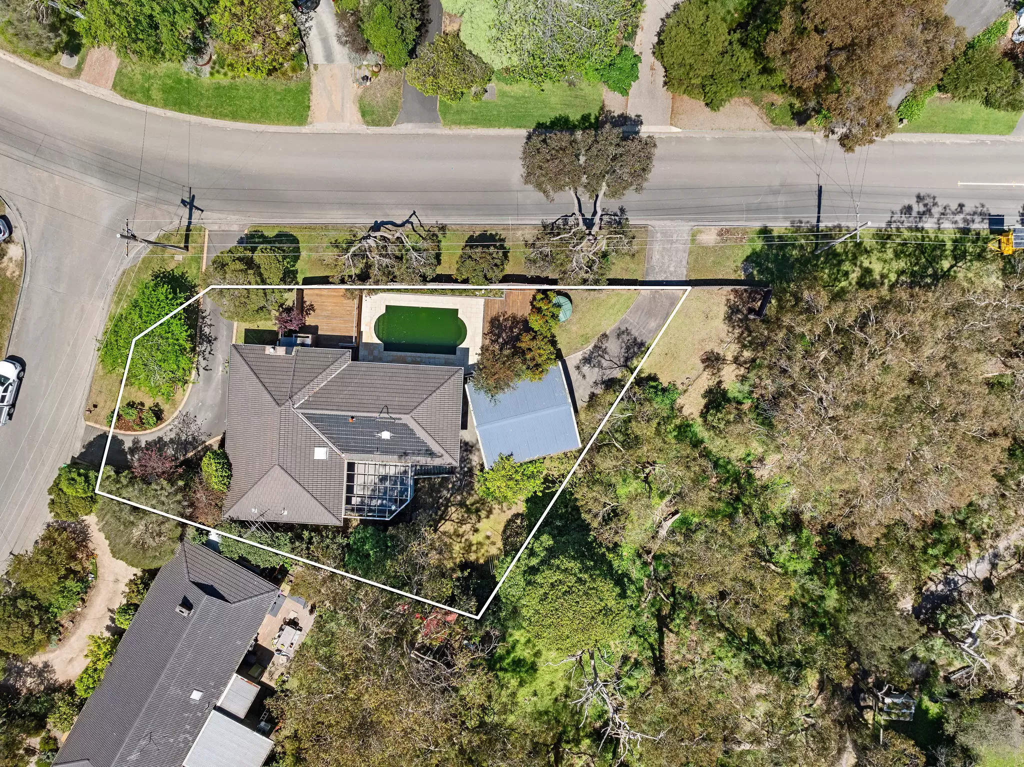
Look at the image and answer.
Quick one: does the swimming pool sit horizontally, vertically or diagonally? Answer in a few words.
horizontally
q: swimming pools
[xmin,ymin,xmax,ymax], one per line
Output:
[373,304,467,355]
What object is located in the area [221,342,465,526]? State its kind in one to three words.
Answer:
house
